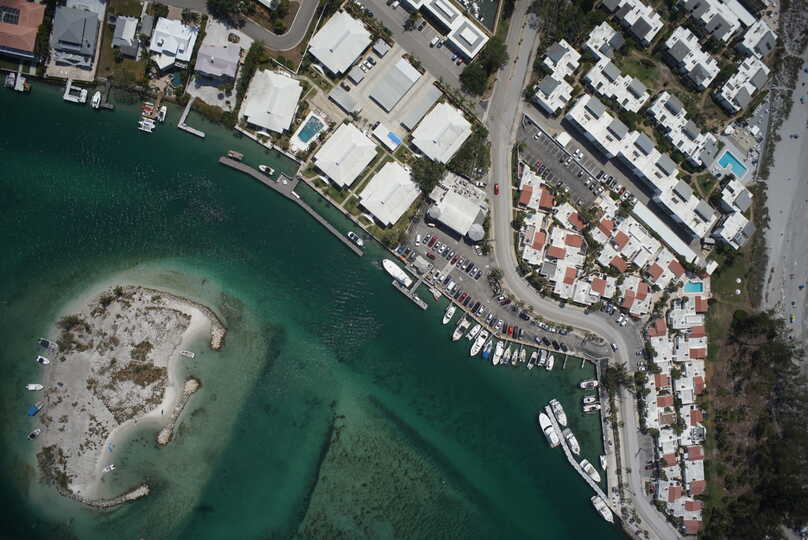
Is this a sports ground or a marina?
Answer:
marina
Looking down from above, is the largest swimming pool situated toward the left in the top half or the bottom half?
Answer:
top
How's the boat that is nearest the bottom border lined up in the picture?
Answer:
diagonally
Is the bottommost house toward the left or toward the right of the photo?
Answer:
right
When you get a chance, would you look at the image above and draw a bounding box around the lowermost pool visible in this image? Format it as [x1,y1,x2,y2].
[683,280,705,293]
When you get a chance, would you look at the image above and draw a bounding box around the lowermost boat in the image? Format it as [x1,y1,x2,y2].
[589,493,614,525]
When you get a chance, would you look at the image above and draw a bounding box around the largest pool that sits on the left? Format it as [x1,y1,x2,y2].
[296,114,325,143]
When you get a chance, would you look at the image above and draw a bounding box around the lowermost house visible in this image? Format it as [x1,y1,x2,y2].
[664,497,704,535]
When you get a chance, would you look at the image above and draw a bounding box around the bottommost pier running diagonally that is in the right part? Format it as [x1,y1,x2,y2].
[544,404,609,503]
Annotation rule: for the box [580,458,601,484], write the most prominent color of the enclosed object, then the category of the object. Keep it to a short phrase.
white boat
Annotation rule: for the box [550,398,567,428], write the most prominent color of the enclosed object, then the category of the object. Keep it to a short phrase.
white boat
